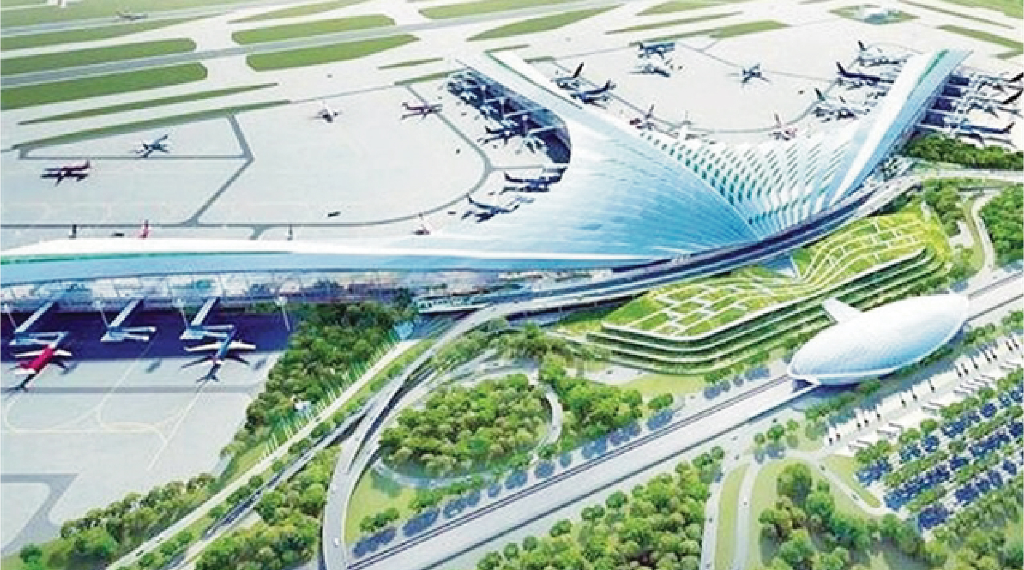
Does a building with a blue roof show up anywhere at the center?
Yes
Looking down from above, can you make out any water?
No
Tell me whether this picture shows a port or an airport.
airport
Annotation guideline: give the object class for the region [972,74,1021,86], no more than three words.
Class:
airplane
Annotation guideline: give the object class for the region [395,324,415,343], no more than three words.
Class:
building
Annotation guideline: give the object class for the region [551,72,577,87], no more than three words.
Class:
airplane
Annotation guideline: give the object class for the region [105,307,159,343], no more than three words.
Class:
jet bridge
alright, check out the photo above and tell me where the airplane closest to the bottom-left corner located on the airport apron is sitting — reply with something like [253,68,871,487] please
[0,330,79,382]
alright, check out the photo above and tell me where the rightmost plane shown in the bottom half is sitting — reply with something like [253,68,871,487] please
[171,328,256,379]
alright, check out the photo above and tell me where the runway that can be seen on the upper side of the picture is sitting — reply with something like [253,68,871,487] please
[0,0,644,88]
